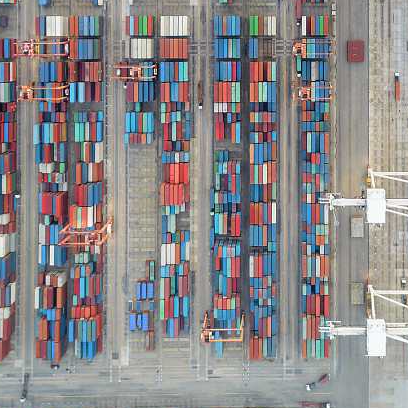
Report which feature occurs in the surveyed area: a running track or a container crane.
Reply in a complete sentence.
Visible in the photo is a container crane.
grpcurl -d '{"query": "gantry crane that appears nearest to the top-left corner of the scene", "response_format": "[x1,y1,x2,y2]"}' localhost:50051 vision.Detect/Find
[16,39,71,59]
